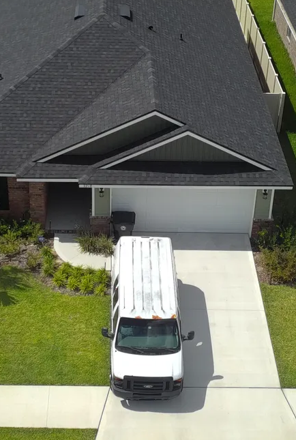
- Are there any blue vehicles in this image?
No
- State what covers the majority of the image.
buildings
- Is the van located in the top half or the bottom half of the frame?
bottom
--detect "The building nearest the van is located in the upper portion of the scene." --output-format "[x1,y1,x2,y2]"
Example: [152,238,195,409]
[0,0,296,235]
